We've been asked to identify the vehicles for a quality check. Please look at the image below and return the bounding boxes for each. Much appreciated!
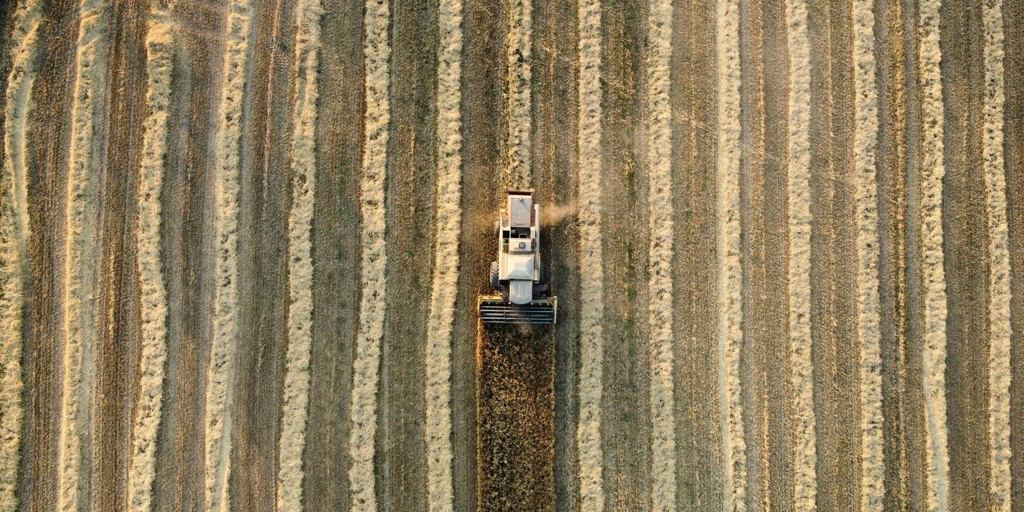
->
[478,189,557,328]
